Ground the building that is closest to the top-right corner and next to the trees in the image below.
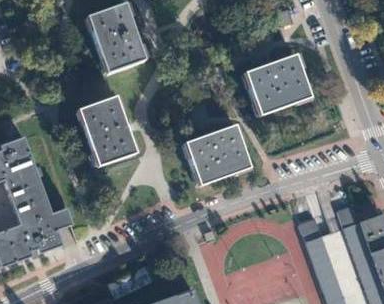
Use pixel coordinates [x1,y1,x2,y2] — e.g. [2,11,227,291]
[242,54,314,115]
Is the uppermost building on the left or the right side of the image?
left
